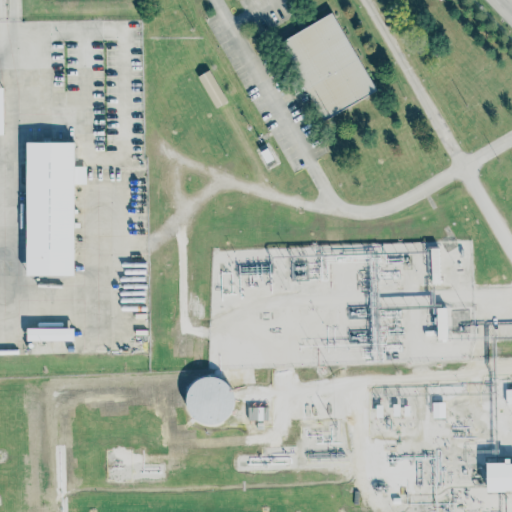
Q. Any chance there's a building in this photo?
Yes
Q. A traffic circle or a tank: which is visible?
tank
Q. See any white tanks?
Yes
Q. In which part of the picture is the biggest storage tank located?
bottom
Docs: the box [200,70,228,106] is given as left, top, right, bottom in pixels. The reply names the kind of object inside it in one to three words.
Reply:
shed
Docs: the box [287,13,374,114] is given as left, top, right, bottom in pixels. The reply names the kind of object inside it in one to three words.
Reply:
building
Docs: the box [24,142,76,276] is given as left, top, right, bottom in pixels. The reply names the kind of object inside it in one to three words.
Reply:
building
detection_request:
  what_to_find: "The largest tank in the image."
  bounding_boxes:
[186,376,245,428]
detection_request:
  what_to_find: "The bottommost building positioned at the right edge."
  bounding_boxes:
[478,447,512,494]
